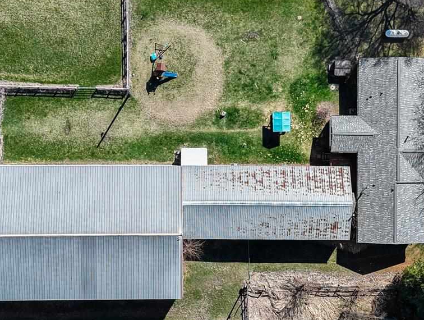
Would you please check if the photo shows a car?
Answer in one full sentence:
No, I can see no car in this picture.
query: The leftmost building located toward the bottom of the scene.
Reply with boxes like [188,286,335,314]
[0,164,183,300]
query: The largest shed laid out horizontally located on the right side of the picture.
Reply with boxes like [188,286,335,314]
[183,166,358,239]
